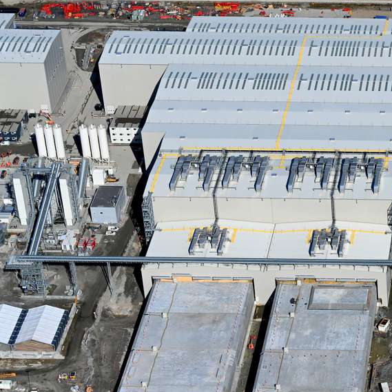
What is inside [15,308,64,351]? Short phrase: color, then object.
white tent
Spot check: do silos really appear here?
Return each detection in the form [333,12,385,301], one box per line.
[95,122,110,167]
[51,122,66,165]
[85,122,100,167]
[41,122,56,159]
[75,122,90,165]
[31,122,45,165]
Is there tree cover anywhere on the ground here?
No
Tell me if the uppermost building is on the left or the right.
left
